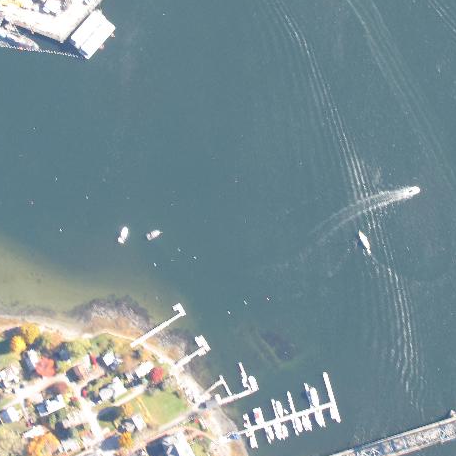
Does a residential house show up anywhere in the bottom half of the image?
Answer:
Yes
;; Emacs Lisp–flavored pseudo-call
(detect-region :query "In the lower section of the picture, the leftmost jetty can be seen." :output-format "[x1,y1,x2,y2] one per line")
[131,304,184,348]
